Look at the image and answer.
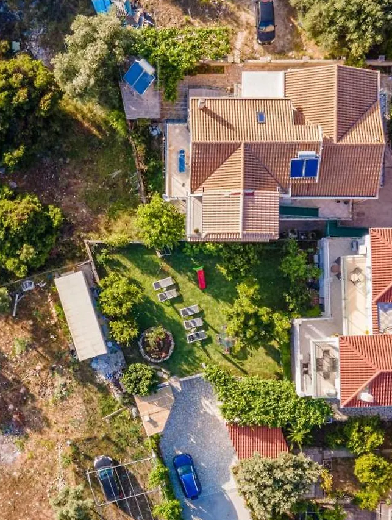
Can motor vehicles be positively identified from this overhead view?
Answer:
Yes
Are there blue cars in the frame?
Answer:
Yes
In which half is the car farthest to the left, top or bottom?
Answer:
bottom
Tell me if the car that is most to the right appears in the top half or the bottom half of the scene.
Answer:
top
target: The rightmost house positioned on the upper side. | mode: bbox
[165,64,392,243]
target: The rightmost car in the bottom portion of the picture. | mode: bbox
[171,451,201,502]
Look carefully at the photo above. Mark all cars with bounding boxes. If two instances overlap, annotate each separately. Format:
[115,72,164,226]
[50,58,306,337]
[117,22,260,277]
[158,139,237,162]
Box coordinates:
[95,454,123,506]
[171,451,201,502]
[255,0,279,49]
